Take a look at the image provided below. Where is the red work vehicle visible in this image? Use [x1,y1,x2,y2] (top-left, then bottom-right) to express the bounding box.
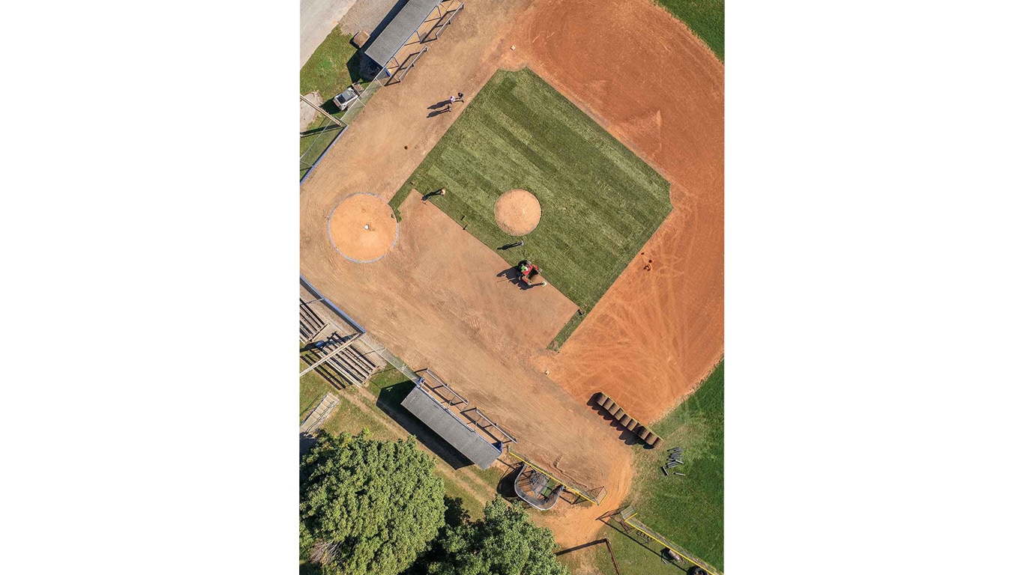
[516,261,544,288]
